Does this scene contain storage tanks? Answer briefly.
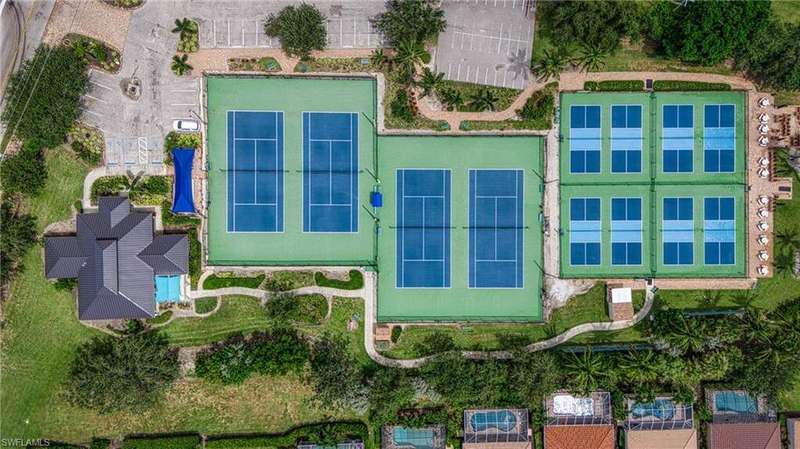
No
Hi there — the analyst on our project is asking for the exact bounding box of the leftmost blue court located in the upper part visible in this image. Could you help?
[220,110,288,233]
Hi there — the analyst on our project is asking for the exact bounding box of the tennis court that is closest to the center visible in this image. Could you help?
[391,167,458,290]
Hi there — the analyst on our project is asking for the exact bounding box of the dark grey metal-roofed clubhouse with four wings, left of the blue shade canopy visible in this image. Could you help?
[45,197,191,319]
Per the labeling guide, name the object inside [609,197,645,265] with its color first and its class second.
blue sports court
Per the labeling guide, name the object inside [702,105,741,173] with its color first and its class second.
blue sports court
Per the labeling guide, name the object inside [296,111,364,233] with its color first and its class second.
blue tennis court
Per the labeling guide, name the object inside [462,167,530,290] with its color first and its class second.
blue tennis court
